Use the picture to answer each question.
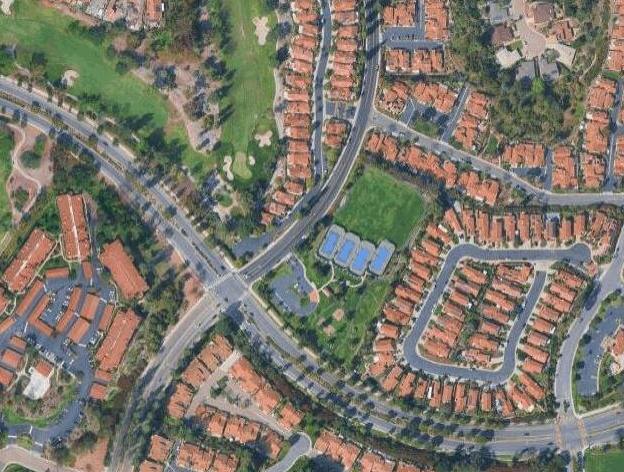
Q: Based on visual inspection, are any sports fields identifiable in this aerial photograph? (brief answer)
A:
Yes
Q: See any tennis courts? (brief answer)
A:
Yes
